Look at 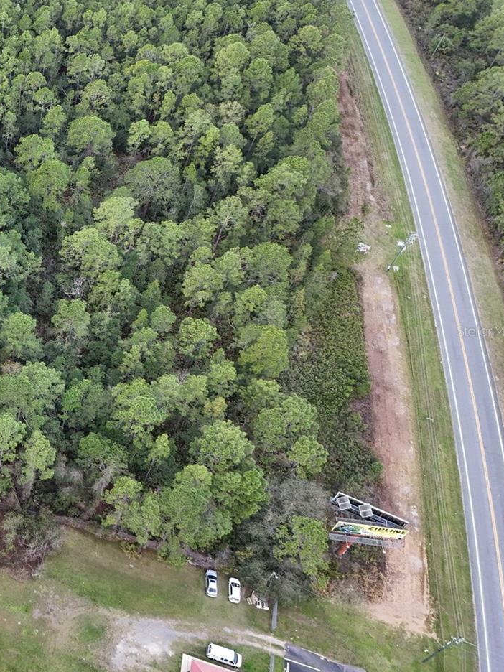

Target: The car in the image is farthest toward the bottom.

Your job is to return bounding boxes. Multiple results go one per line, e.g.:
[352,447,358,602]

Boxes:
[204,643,244,669]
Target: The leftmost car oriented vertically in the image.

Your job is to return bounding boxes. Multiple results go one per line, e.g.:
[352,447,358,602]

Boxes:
[203,569,219,600]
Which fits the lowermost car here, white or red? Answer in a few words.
white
